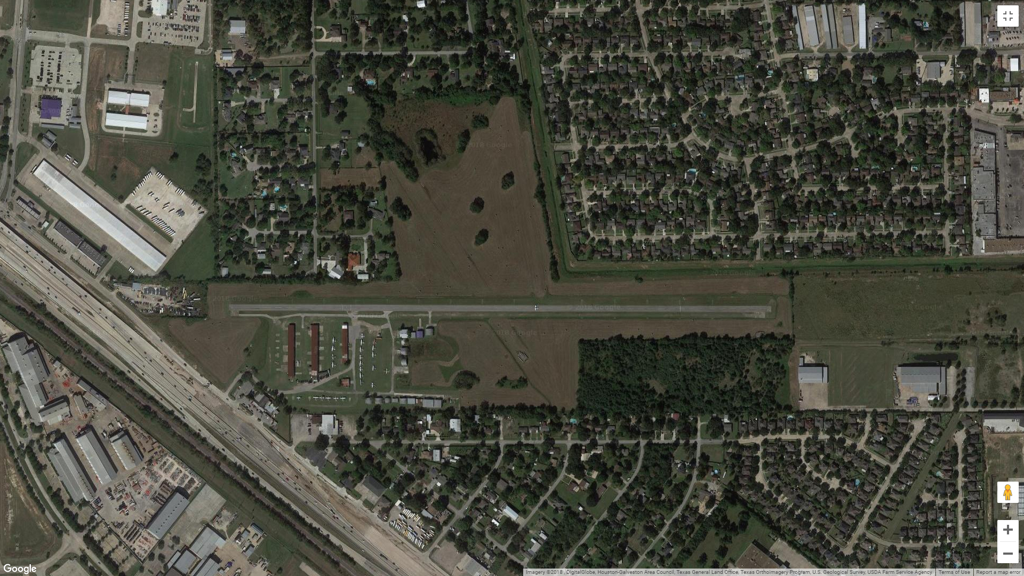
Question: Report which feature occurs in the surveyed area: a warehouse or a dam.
warehouse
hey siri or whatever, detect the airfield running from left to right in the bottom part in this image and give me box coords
[229,304,771,402]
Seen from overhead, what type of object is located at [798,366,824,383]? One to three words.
hangar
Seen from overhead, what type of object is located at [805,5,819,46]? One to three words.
shed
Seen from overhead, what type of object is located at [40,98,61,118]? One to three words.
building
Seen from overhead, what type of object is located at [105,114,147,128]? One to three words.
barn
